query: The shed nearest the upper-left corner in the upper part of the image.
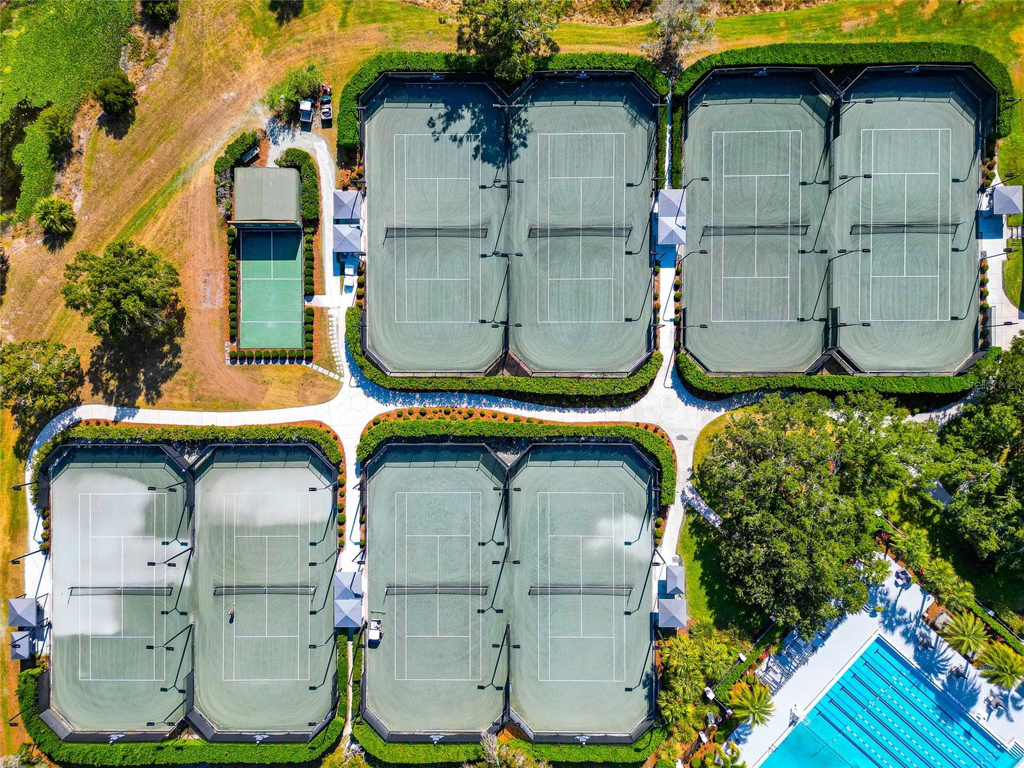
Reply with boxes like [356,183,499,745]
[236,167,306,222]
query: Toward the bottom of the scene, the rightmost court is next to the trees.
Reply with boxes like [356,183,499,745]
[510,443,654,733]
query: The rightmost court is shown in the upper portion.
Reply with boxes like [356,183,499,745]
[831,77,982,372]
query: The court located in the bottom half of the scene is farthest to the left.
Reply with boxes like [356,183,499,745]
[50,444,194,732]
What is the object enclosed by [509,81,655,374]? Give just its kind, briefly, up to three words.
tennis court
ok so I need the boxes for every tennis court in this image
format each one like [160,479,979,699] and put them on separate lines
[50,444,194,732]
[366,441,510,732]
[194,445,340,732]
[365,82,509,374]
[509,81,655,374]
[510,443,654,733]
[682,79,831,372]
[831,77,982,372]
